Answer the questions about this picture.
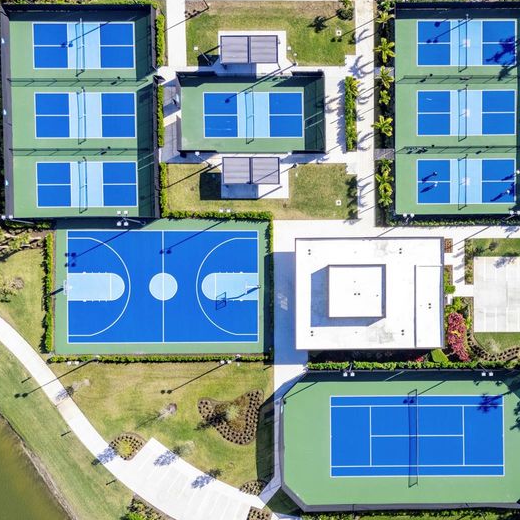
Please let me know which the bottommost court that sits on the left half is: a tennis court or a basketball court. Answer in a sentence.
It turns out the bottommost court that sits on the left half is a basketball court.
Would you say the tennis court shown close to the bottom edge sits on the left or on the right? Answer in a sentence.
The tennis court shown close to the bottom edge is on the right side of the image.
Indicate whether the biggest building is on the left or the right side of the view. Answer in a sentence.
It is on the right.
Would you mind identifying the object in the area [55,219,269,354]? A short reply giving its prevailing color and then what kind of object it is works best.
blue basketball court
